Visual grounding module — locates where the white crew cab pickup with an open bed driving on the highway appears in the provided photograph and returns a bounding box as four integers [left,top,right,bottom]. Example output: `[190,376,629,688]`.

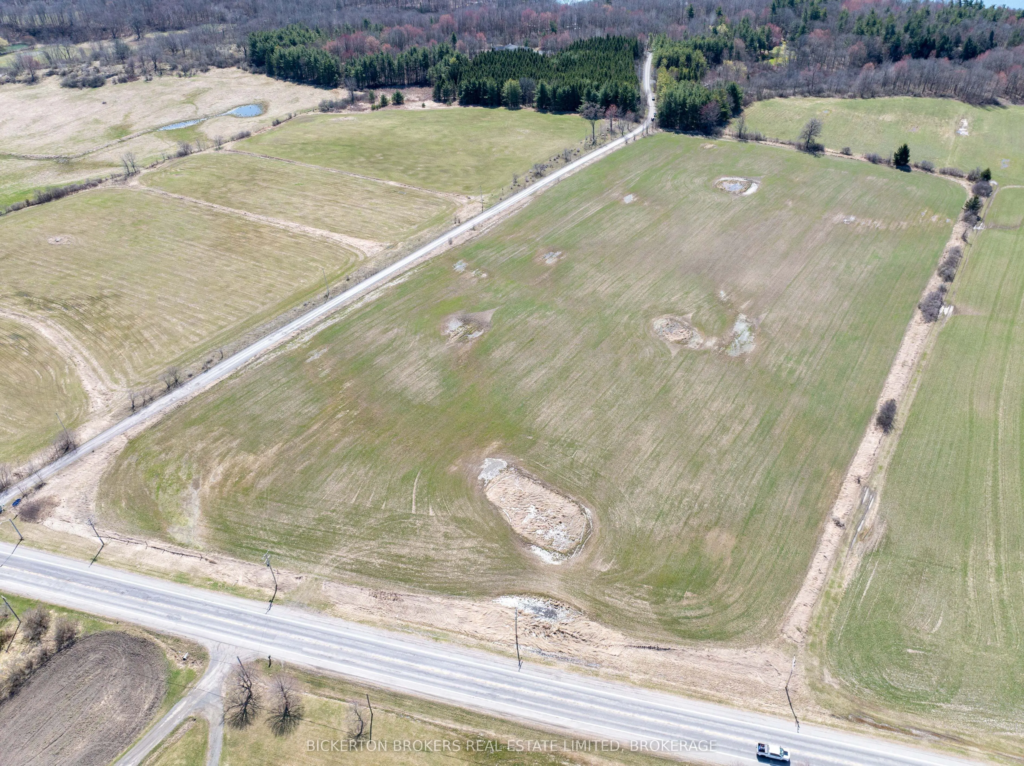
[756,744,793,764]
